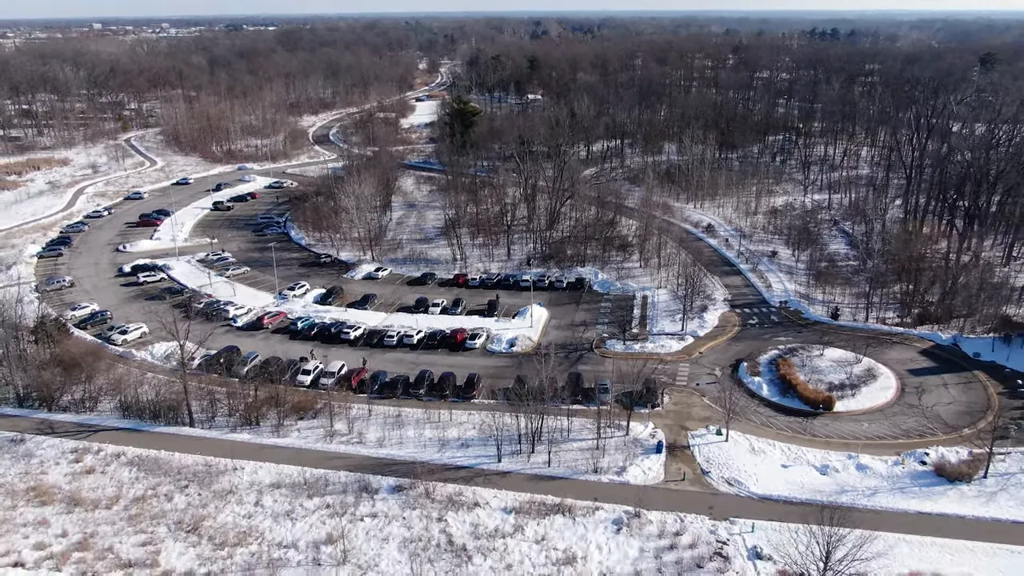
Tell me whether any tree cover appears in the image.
Yes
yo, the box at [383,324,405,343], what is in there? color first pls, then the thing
white car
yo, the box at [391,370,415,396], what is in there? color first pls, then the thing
black car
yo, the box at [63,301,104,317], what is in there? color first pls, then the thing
white car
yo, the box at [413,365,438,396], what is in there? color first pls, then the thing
black car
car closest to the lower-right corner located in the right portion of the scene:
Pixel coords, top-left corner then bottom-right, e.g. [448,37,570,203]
[638,372,660,405]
